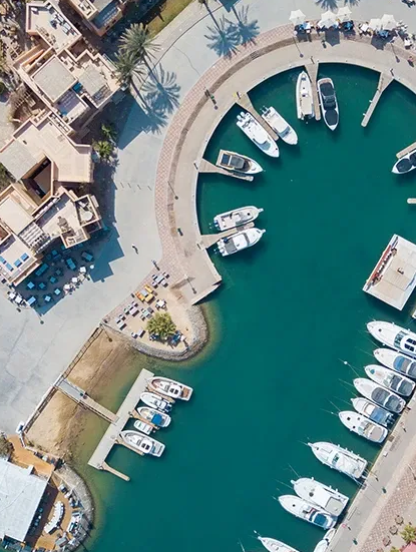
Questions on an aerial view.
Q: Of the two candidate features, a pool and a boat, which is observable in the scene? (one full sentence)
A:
The image shows a boat.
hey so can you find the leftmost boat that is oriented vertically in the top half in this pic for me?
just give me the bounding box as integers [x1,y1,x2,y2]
[293,70,313,124]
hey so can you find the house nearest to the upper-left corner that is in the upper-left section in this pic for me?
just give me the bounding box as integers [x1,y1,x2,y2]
[28,0,87,57]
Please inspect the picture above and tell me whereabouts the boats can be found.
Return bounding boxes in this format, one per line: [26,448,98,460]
[316,78,338,131]
[138,406,173,428]
[354,338,416,381]
[212,206,263,229]
[121,432,168,457]
[341,394,404,428]
[351,360,415,402]
[218,151,262,175]
[340,368,413,416]
[275,468,355,519]
[390,145,416,174]
[215,230,265,255]
[261,108,297,145]
[146,377,194,403]
[141,394,176,413]
[312,394,396,447]
[293,433,379,488]
[253,528,306,552]
[236,117,279,158]
[356,316,416,356]
[293,70,313,124]
[134,421,159,436]
[323,526,335,539]
[261,481,344,537]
